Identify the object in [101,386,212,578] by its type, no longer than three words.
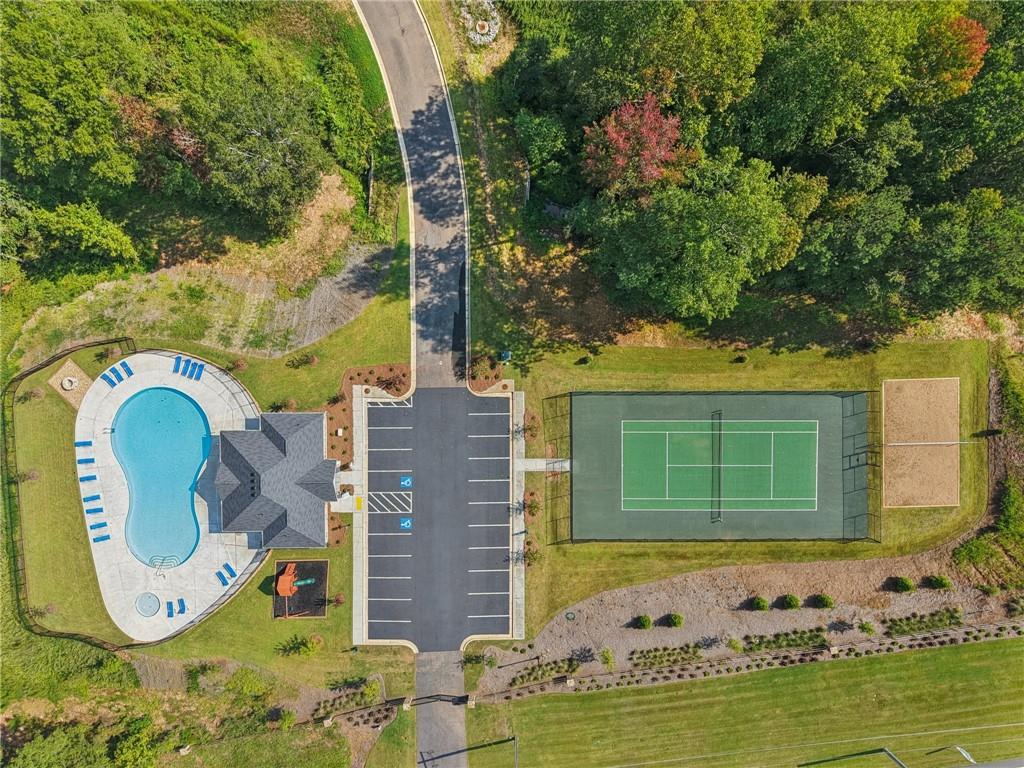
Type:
swimming pool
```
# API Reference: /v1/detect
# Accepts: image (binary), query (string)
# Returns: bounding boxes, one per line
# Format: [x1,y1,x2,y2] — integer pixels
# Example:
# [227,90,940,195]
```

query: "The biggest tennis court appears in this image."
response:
[571,392,868,542]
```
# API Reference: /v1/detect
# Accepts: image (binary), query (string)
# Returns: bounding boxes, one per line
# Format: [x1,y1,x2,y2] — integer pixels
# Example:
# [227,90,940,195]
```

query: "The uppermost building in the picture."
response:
[212,412,343,549]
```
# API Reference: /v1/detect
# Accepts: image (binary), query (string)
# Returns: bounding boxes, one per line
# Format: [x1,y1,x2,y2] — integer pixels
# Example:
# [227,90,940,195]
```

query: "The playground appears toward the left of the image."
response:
[272,558,330,619]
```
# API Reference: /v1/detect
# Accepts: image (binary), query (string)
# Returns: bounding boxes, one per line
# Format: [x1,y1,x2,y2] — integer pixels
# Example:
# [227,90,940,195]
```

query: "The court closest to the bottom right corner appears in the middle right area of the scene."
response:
[875,377,986,508]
